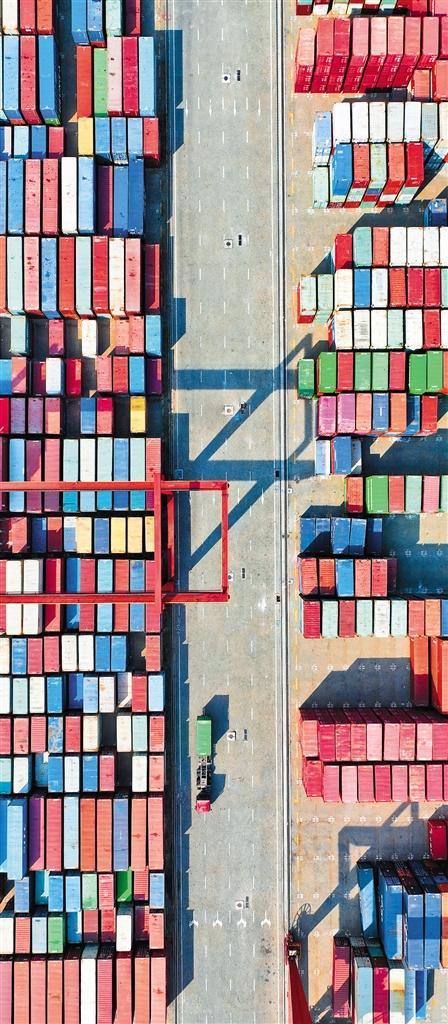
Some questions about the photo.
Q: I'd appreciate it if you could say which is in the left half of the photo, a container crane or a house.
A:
container crane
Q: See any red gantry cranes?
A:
Yes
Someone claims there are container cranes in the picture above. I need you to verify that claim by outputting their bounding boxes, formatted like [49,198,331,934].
[0,474,232,614]
[285,926,312,1024]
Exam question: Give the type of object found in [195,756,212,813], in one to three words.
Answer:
vehicle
